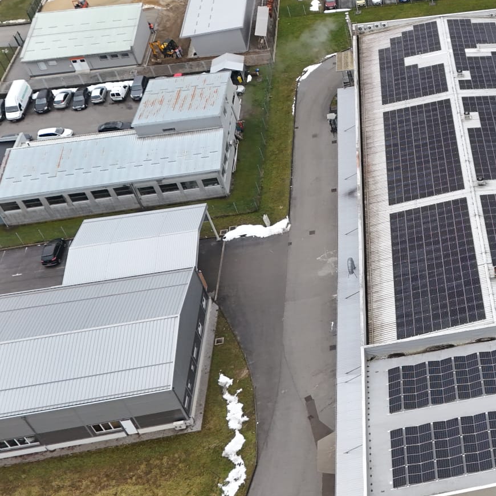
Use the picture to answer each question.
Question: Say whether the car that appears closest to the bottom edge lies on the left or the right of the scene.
left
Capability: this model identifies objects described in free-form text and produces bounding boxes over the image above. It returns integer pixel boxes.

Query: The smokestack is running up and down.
[341,7,353,53]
